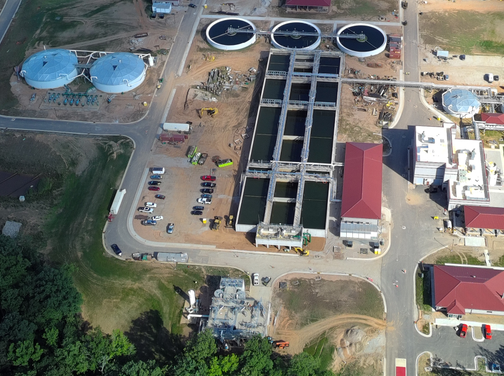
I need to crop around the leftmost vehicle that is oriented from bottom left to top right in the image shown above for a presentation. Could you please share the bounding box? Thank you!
[100,182,130,226]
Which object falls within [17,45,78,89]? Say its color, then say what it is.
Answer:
blue storage tank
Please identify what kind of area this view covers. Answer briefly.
industrial area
